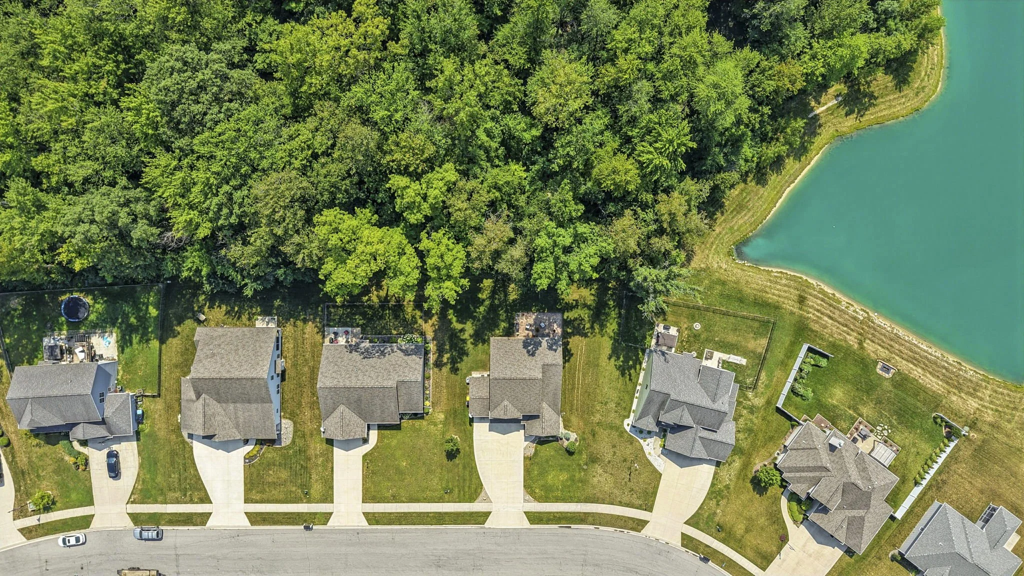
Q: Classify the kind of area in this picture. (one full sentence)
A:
What you see here is a residential area.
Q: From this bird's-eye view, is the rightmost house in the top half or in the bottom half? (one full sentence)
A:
The rightmost house is in the bottom half of the image.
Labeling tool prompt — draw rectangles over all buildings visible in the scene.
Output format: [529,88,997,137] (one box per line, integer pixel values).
[632,350,740,462]
[317,340,424,440]
[6,361,139,441]
[774,420,900,556]
[899,501,1023,576]
[181,327,287,442]
[469,337,562,437]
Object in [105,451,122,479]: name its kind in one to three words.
car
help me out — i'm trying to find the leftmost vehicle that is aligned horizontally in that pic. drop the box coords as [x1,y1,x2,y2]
[59,532,89,548]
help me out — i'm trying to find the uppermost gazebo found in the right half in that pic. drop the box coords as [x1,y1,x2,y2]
[654,332,677,348]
